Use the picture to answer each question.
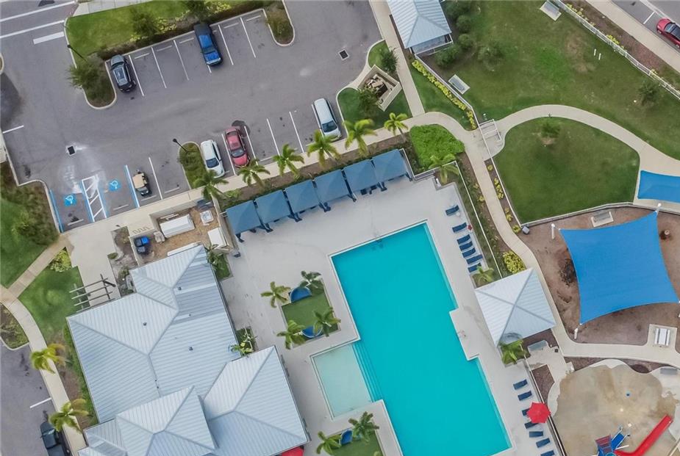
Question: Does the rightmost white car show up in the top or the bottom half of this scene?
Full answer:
The top half of the photo is where the rightmost white car is.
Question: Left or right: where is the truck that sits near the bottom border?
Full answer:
The truck that sits near the bottom border appears in the left half of the scene.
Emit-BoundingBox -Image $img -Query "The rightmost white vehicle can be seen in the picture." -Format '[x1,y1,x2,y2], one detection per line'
[311,95,343,140]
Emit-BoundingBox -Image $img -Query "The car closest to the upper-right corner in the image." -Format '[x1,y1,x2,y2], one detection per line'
[654,17,680,48]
